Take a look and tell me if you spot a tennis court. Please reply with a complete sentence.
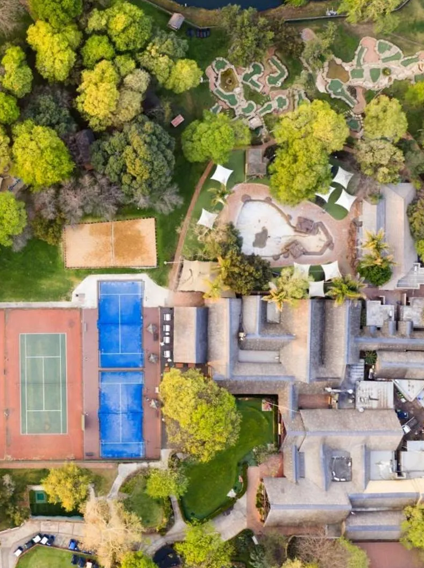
Yes, a tennis court appears in the view.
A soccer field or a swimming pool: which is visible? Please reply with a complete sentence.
It is a swimming pool that can be seen here.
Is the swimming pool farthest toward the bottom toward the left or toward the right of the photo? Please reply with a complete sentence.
The swimming pool farthest toward the bottom sits on the right side.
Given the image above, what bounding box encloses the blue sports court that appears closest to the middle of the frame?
[99,280,148,369]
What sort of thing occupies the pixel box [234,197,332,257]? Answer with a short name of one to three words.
swimming pool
